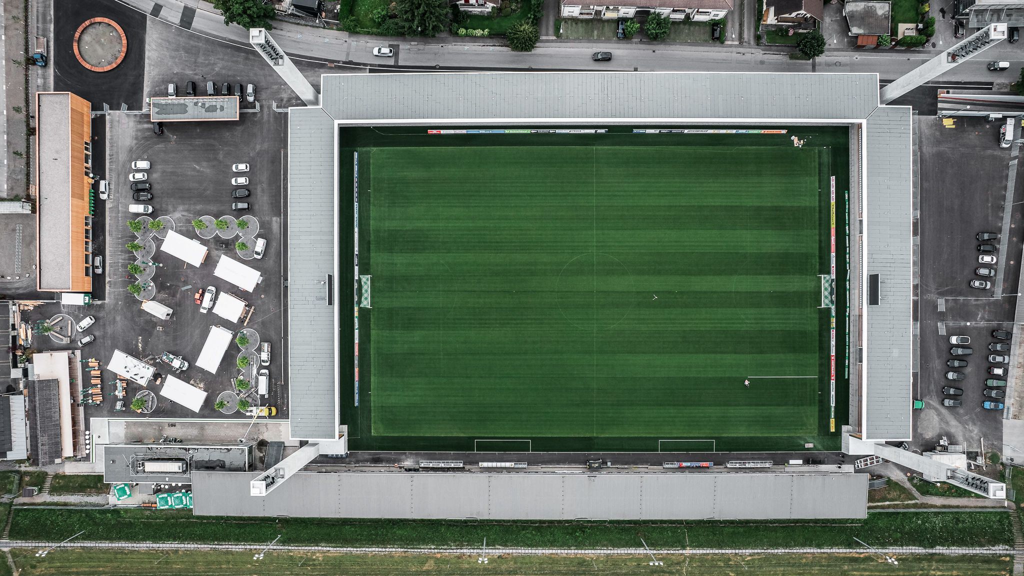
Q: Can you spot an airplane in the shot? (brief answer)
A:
No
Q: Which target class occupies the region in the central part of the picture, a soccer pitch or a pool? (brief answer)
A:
soccer pitch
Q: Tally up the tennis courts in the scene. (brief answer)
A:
zero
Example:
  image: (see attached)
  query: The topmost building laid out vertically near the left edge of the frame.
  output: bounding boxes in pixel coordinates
[35,92,92,292]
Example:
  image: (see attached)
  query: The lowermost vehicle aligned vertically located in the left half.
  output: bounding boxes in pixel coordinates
[257,371,269,399]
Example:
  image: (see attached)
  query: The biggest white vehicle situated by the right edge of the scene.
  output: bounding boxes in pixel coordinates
[1000,118,1017,148]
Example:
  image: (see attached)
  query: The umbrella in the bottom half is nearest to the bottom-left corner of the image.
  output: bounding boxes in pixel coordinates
[114,483,132,501]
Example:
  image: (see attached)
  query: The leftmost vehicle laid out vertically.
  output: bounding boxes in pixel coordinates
[33,35,48,67]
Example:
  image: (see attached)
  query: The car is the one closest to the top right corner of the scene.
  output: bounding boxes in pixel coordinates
[1007,27,1020,45]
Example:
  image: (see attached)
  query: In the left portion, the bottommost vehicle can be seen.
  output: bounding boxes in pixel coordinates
[238,402,276,443]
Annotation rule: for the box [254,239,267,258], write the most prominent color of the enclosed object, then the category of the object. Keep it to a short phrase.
white vehicle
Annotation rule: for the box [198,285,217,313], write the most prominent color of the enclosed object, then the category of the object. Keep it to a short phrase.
white vehicle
